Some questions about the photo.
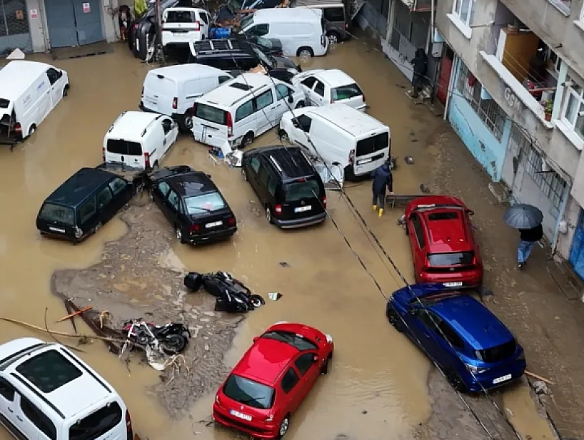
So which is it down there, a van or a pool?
van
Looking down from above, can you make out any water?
Yes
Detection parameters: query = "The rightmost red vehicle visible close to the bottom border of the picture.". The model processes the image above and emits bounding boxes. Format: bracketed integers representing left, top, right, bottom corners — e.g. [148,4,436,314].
[217,323,331,440]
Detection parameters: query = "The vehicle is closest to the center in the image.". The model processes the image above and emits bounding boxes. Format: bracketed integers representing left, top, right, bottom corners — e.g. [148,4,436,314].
[243,144,330,226]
